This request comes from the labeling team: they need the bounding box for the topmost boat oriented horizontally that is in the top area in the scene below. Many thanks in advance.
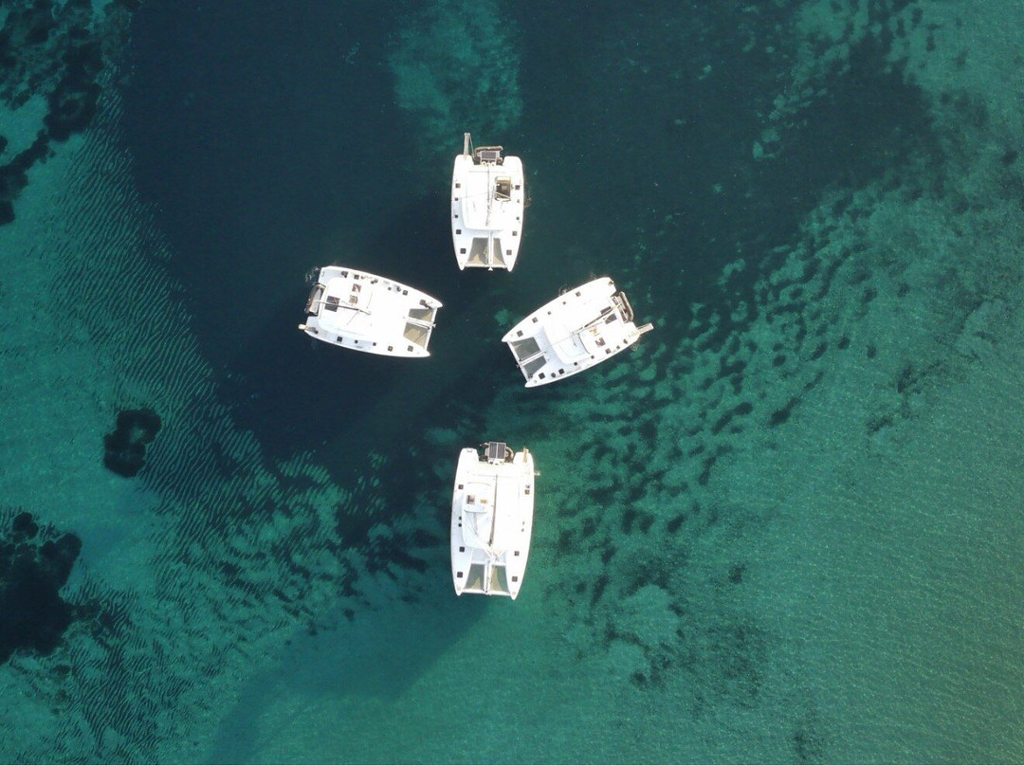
[474,149,506,164]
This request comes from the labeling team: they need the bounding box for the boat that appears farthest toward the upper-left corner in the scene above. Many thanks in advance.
[306,283,326,315]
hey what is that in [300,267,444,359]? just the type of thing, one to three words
boat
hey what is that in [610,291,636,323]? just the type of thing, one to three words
boat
